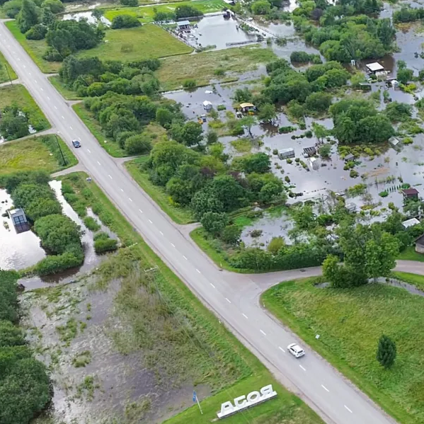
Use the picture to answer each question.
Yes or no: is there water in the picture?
Yes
